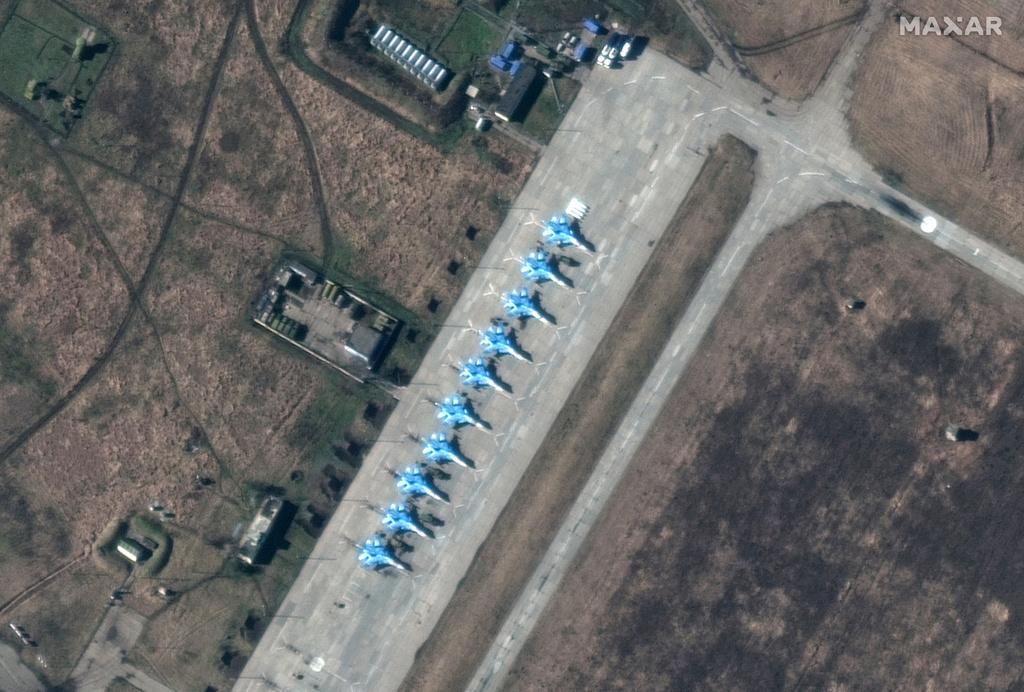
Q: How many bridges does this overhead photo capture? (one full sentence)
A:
Not a single bridge can be seen.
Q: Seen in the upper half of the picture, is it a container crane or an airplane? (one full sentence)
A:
You can see an airplane in the upper half of the picture.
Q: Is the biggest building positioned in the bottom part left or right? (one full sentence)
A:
It is on the left.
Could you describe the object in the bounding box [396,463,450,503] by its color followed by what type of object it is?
blue airplane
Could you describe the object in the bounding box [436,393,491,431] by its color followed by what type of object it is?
blue airplane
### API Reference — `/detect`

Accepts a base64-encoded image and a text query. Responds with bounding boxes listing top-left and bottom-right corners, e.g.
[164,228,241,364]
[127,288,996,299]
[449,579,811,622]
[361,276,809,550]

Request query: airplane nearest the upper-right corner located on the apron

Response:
[539,217,594,255]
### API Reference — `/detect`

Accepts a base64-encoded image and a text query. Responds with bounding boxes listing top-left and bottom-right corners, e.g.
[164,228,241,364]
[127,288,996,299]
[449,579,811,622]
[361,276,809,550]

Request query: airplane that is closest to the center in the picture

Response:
[478,323,533,362]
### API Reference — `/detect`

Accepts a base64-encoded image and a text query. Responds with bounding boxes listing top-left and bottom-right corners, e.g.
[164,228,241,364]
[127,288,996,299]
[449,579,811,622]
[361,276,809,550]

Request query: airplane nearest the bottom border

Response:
[354,535,409,574]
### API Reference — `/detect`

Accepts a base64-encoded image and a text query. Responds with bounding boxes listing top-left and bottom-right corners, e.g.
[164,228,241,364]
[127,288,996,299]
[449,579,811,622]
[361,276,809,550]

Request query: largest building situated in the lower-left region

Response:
[237,497,286,566]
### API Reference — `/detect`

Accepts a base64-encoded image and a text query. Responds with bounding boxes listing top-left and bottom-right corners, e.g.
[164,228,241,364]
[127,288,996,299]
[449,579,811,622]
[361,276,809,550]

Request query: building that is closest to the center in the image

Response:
[345,323,384,363]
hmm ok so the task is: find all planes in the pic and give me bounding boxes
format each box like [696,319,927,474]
[458,359,511,397]
[417,429,469,467]
[478,323,533,362]
[519,253,571,289]
[396,463,450,503]
[375,500,429,538]
[436,393,491,431]
[499,286,553,325]
[539,217,594,255]
[354,535,409,574]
